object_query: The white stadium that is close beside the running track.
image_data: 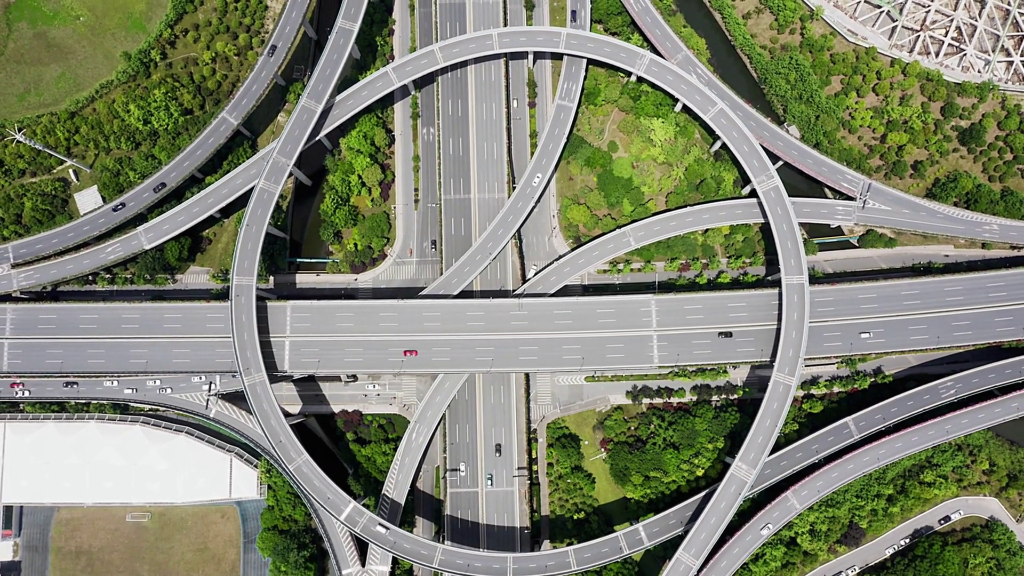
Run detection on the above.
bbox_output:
[0,412,268,504]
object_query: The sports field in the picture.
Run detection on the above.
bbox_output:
[50,506,242,576]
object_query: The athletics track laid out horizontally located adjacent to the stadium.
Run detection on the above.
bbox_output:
[17,491,267,576]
